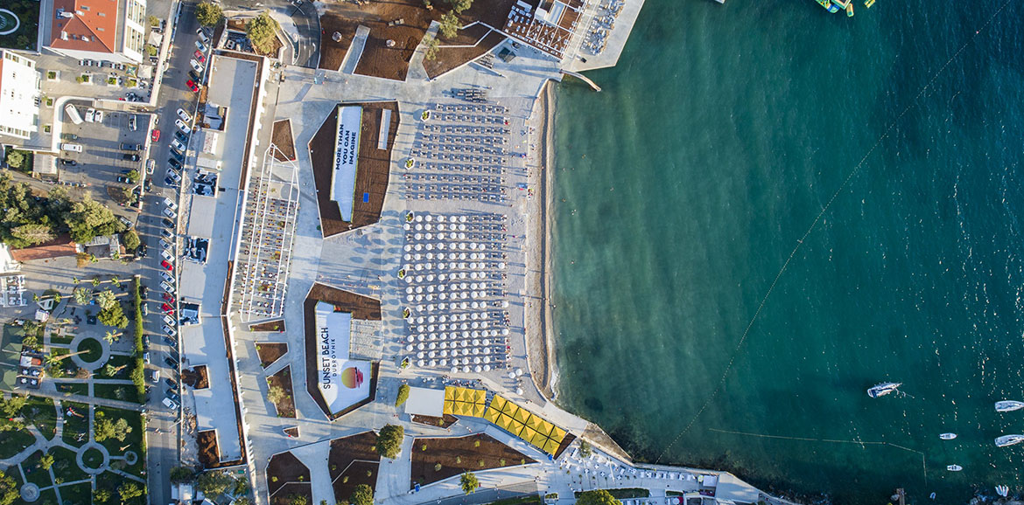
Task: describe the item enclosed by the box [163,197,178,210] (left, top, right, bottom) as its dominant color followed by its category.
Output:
white vehicle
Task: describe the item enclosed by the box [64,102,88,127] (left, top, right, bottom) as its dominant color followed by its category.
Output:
white bus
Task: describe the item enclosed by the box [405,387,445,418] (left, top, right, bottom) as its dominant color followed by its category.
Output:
white tent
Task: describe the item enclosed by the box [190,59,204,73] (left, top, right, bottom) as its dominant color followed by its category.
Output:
white car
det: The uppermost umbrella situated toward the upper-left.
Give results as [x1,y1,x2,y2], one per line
[149,31,162,47]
